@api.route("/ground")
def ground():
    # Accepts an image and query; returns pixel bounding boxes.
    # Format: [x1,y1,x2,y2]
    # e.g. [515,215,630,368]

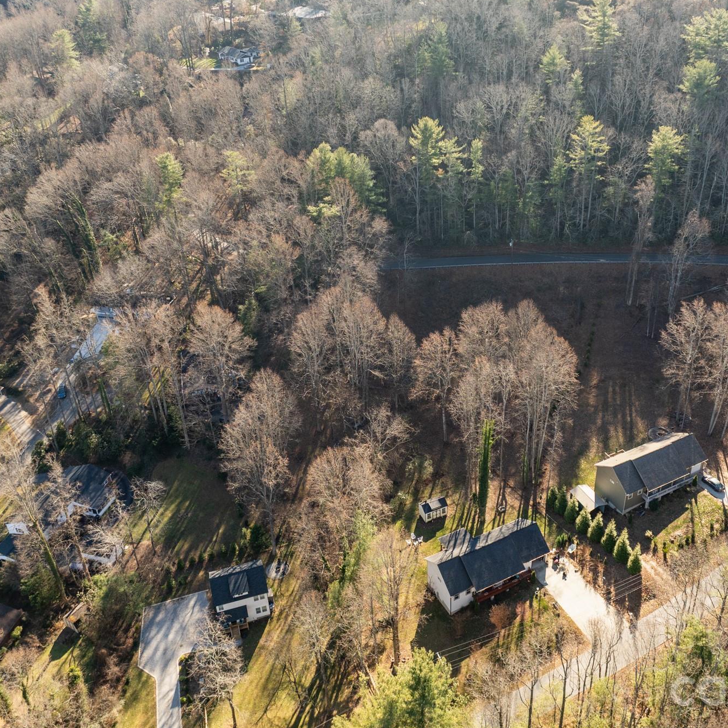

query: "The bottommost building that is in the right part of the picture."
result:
[425,517,555,616]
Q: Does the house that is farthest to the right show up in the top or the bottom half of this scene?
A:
bottom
